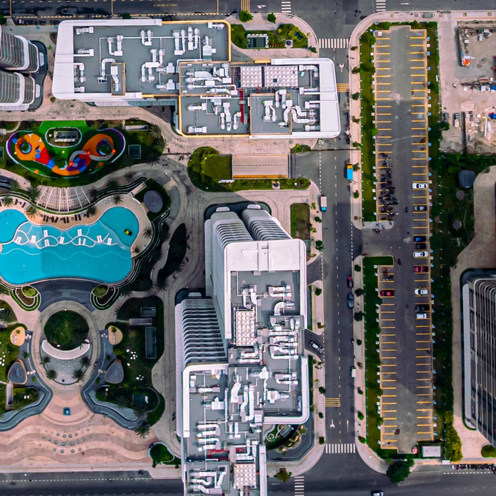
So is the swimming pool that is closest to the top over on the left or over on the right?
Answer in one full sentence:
The swimming pool that is closest to the top appears in the left half of the scene.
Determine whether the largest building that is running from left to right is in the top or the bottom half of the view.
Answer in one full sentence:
The top half of the photo is where the largest building that is running from left to right is.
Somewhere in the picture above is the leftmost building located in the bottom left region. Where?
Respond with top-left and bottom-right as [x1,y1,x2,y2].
[7,360,28,386]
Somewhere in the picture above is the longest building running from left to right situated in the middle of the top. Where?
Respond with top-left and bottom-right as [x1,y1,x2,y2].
[53,19,340,140]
